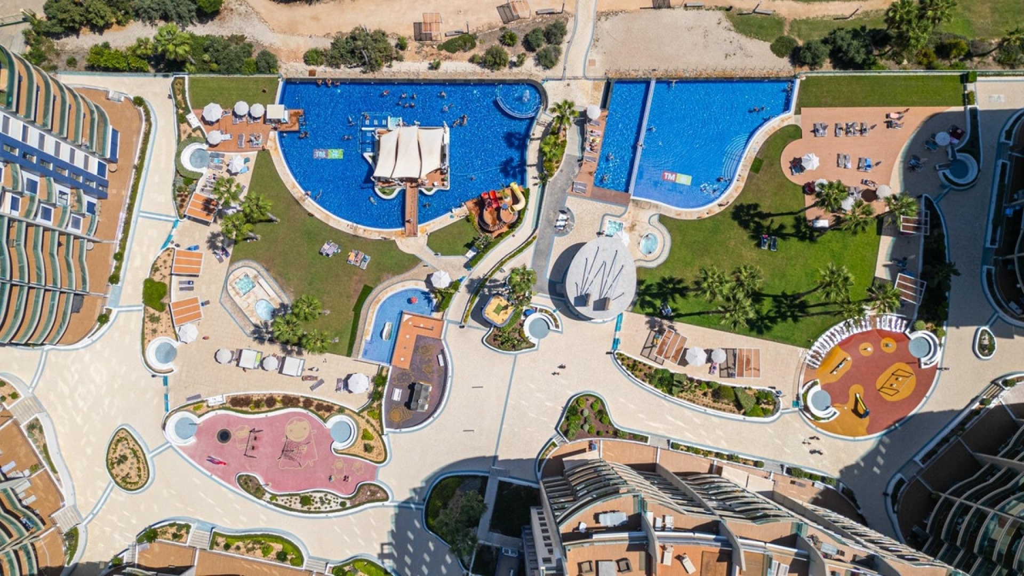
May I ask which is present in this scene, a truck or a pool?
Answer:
pool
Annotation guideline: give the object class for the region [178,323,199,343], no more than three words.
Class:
umbrella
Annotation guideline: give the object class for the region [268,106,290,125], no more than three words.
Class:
tent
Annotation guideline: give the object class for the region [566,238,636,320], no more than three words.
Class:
building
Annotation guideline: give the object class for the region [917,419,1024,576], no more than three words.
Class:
building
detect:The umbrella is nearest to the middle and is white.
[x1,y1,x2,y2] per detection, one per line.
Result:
[431,269,451,289]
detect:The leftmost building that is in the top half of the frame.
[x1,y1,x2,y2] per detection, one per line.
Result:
[0,48,119,345]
